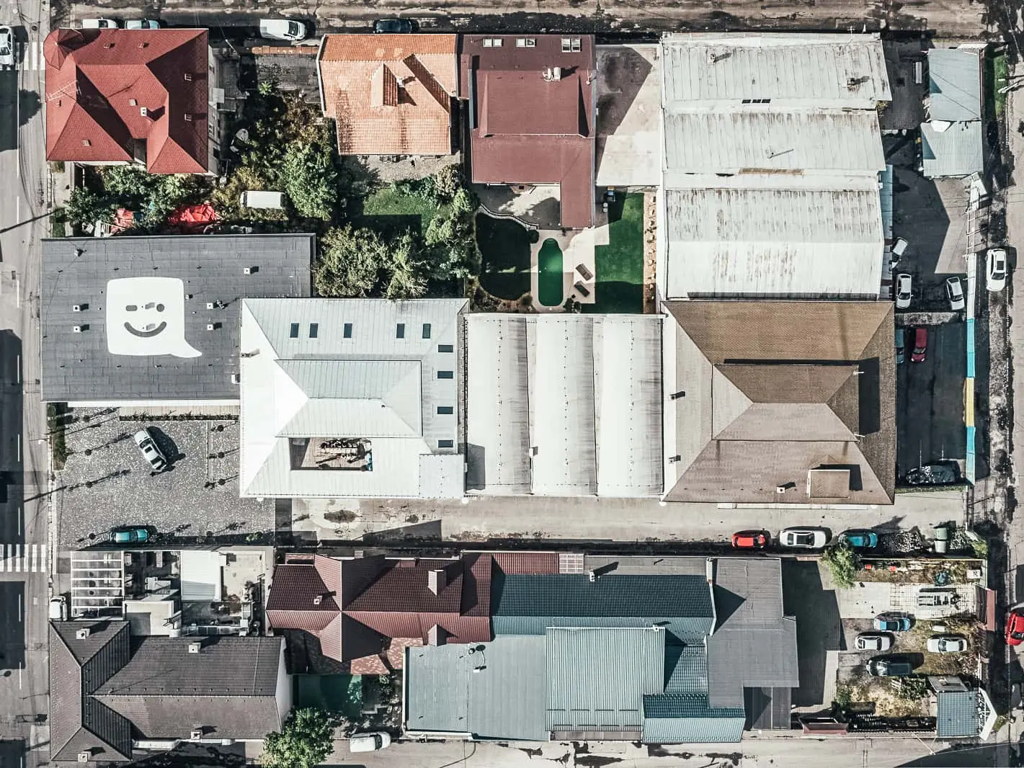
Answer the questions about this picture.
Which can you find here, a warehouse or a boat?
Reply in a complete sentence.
This aerial view contains a warehouse.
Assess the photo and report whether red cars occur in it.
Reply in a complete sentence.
Yes, a red car is visible in the scene.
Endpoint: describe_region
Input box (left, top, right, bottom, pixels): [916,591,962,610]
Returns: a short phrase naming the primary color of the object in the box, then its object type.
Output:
white trailer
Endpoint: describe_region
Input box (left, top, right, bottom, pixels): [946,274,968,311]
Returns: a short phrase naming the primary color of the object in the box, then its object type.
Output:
white car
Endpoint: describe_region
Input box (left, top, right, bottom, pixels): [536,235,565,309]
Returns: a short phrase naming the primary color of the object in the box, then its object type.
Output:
green swimming pool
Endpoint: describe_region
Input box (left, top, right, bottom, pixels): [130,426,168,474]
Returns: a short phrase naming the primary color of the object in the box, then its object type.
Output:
white car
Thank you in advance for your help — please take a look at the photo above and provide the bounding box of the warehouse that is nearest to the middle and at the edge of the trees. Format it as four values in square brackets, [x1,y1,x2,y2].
[465,313,663,499]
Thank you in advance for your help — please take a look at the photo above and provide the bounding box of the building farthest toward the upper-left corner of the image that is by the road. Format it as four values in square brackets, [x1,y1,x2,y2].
[40,26,221,180]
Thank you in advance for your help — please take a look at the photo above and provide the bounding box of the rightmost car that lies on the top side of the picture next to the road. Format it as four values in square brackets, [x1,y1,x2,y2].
[987,246,1011,290]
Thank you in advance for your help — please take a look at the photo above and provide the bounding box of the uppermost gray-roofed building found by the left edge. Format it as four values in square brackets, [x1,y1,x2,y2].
[40,233,323,407]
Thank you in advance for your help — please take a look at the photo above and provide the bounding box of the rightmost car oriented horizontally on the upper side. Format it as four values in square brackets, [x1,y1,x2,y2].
[371,14,413,33]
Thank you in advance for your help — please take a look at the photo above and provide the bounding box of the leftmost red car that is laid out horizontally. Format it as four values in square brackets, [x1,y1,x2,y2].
[733,531,770,549]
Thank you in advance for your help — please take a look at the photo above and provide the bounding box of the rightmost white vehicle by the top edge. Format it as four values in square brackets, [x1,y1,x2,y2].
[256,15,303,41]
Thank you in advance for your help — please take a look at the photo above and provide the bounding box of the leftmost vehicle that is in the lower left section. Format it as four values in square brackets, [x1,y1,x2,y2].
[44,597,65,624]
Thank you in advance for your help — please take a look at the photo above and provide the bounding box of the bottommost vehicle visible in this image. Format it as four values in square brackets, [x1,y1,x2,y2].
[348,732,391,758]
